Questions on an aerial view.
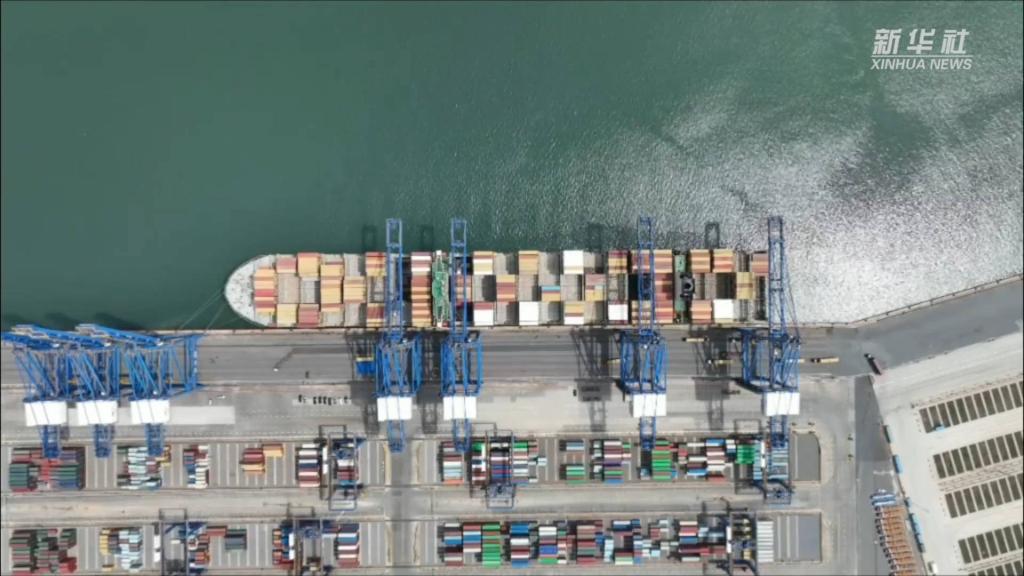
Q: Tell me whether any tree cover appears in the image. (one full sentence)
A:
No, tree cover can't be seen anywhere here.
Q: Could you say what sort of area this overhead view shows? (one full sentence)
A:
This image shows a port.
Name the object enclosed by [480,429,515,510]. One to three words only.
container crane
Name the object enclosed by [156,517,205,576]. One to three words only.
container crane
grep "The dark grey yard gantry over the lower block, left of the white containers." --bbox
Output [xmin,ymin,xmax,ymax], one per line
[718,509,760,576]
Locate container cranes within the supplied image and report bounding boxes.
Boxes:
[718,509,760,576]
[751,423,794,505]
[614,216,671,449]
[74,323,204,454]
[12,323,155,455]
[733,215,804,447]
[0,331,110,456]
[376,219,428,452]
[156,517,205,576]
[440,218,487,451]
[324,430,366,512]
[480,429,515,510]
[290,515,333,576]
